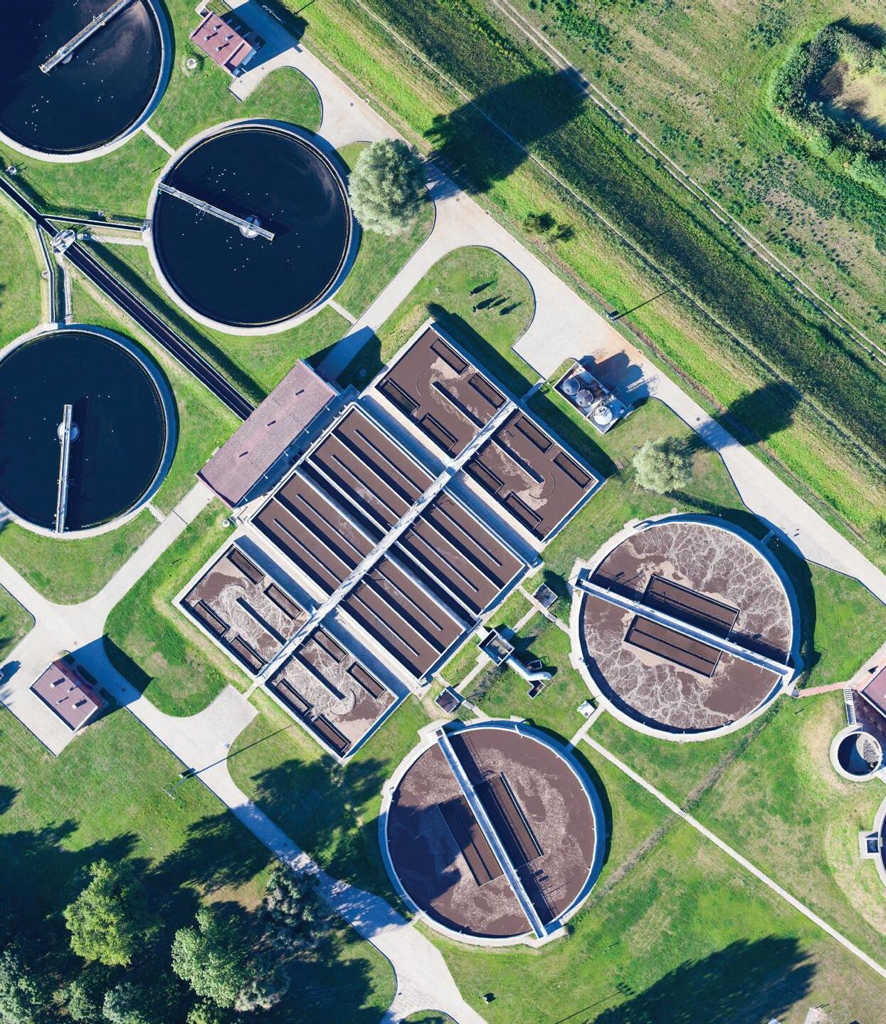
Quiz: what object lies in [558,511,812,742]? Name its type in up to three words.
storage tank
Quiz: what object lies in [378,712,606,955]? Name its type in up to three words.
storage tank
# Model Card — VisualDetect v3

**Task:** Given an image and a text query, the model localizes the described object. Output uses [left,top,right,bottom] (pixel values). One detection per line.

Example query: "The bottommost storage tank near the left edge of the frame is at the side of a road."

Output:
[0,323,177,539]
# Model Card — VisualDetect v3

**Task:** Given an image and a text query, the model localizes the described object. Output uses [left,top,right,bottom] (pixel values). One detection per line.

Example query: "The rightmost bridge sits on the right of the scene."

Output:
[575,570,798,681]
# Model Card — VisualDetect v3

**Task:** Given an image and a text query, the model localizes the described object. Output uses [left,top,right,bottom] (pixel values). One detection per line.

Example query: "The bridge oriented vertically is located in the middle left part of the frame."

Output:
[53,403,74,534]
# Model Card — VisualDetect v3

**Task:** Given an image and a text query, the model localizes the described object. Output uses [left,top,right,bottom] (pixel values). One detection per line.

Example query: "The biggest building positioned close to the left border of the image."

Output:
[29,659,106,732]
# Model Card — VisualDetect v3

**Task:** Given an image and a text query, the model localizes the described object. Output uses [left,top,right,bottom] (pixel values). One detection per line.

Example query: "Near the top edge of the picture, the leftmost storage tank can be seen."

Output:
[0,0,172,163]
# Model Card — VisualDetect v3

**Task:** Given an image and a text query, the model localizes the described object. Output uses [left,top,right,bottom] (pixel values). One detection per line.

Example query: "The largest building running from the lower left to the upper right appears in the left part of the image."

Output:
[197,358,341,511]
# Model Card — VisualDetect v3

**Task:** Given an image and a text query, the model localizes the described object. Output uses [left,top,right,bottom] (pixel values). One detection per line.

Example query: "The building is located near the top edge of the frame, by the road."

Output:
[190,11,260,77]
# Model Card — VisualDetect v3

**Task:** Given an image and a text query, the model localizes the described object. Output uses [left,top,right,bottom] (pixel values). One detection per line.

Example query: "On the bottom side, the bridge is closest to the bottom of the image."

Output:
[433,725,550,944]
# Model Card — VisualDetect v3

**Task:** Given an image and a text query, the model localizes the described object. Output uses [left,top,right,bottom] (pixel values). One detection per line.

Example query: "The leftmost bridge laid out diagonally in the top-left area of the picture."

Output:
[38,0,133,73]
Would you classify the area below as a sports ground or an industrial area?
industrial area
